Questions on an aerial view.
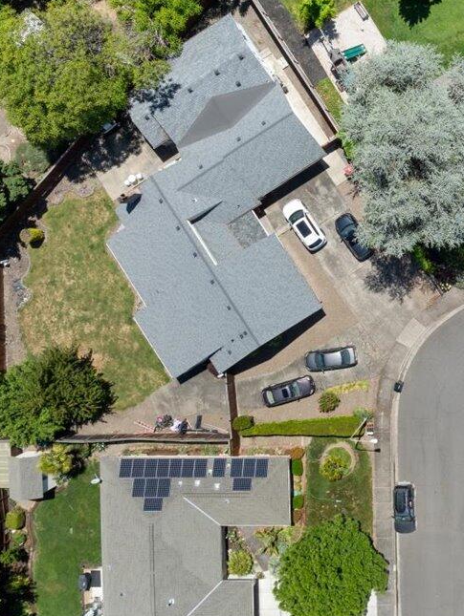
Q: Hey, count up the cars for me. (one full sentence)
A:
In total, 5 cars can be seen.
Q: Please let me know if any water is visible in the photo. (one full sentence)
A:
No, the picture contains no water.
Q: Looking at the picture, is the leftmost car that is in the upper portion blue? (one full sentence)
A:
No, the leftmost car that is in the upper portion is actually white.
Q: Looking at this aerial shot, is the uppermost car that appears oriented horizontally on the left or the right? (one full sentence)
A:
The uppermost car that appears oriented horizontally sits on the right side.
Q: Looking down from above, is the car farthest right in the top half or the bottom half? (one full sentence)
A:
The car farthest right is in the bottom half of the image.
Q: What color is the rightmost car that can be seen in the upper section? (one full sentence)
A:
The color of the rightmost car that can be seen in the upper section is black.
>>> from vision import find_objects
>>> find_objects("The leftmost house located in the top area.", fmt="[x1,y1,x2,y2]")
[105,13,327,377]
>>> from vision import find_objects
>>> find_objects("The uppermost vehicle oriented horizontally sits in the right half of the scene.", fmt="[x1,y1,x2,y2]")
[303,346,358,374]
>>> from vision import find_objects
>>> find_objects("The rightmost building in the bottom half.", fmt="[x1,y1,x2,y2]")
[100,454,299,616]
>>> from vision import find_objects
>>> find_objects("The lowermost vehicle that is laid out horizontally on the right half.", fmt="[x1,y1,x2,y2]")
[258,377,316,409]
